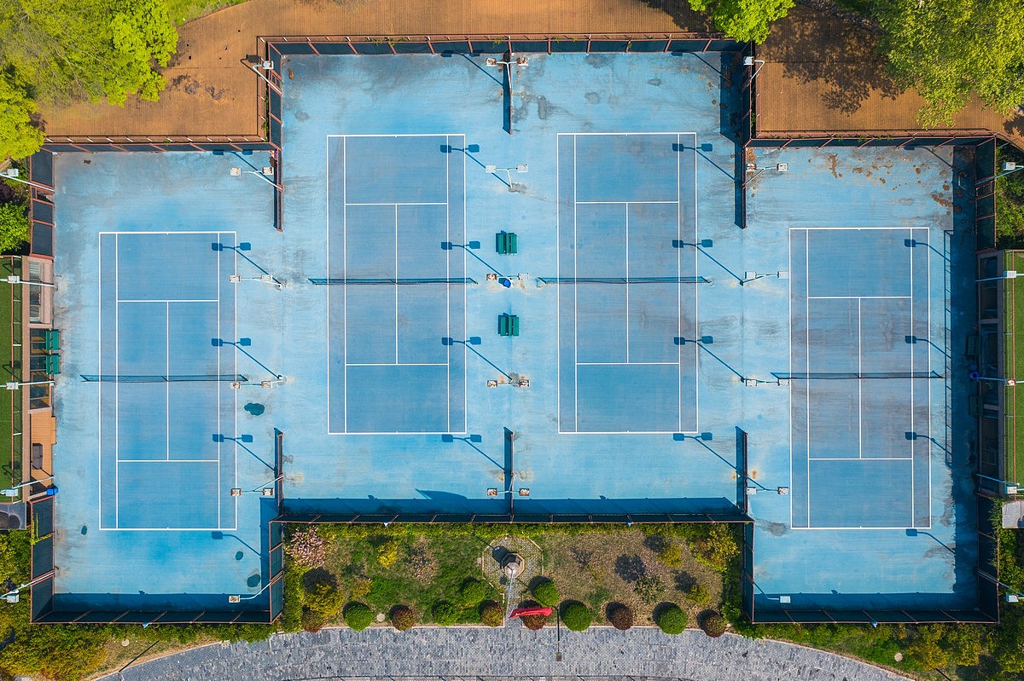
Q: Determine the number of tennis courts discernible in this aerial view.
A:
four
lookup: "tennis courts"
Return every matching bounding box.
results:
[789,227,931,530]
[557,132,698,434]
[327,133,466,434]
[99,231,237,531]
